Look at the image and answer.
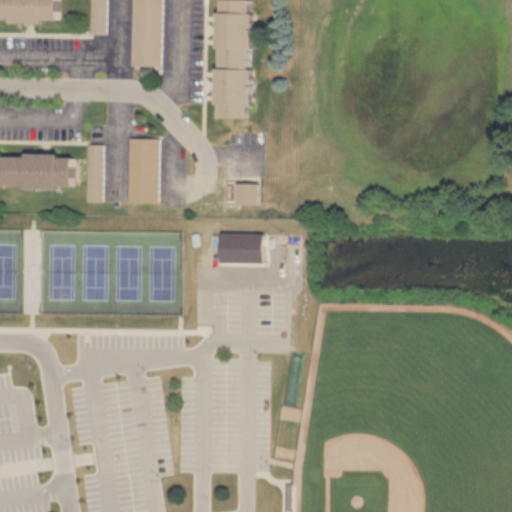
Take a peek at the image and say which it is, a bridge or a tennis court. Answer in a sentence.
The image shows a tennis court.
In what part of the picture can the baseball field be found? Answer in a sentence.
Look in the bottom right portion of the view to spot the baseball field.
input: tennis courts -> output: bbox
[49,244,75,300]
[83,245,108,301]
[0,244,18,299]
[148,246,177,302]
[114,246,143,302]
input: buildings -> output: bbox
[236,184,260,206]
[0,0,64,24]
[0,154,78,190]
[212,70,254,120]
[132,0,162,70]
[217,0,254,13]
[130,138,160,204]
[91,0,108,36]
[214,14,254,69]
[87,146,105,203]
[220,234,265,263]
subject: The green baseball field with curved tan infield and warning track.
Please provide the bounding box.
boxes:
[297,304,512,512]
